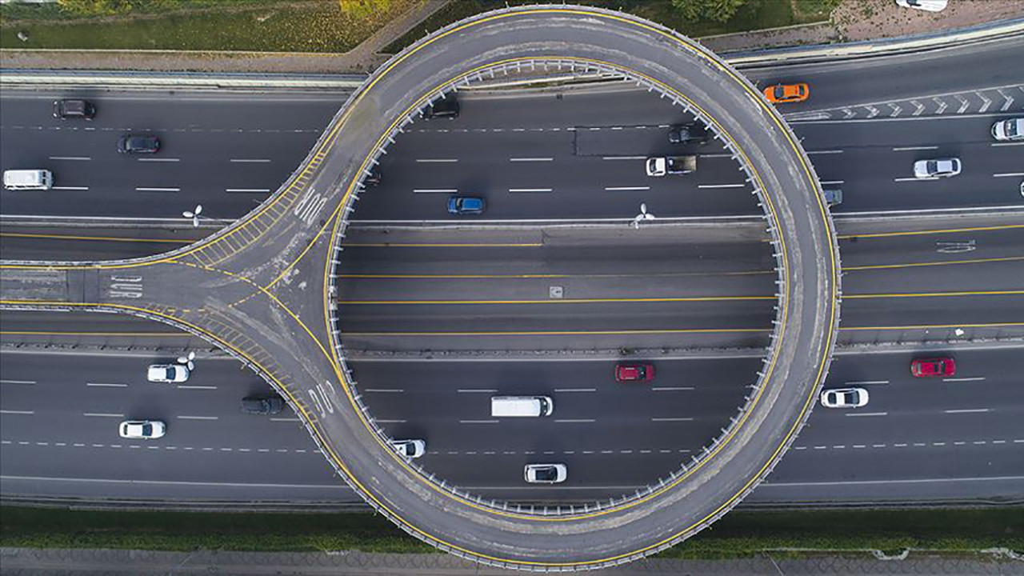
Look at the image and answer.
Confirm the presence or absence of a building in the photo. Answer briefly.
No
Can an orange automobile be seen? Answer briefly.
Yes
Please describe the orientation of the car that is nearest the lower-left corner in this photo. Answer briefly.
from left to right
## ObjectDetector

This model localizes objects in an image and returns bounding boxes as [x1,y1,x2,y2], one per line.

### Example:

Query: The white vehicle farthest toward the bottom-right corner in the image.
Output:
[819,386,868,409]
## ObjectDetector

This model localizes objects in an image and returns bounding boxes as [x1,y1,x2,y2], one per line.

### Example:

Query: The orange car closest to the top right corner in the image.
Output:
[763,83,809,105]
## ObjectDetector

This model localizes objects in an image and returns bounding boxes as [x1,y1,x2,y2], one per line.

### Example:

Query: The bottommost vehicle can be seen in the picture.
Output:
[524,462,566,486]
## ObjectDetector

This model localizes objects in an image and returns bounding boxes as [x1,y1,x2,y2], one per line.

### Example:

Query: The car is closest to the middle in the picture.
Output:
[447,195,485,217]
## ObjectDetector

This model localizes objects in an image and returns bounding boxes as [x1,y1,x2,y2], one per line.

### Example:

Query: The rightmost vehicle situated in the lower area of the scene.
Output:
[908,356,954,378]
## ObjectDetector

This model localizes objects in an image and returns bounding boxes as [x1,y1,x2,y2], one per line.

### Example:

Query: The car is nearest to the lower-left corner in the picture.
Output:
[119,419,168,441]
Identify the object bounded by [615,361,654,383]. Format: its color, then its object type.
red car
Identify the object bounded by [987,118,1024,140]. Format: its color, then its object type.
white car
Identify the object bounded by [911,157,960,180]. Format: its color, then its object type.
white car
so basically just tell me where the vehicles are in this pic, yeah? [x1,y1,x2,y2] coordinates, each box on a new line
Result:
[825,187,843,206]
[54,98,98,121]
[5,167,56,191]
[895,0,948,13]
[394,438,426,458]
[361,166,381,186]
[911,157,960,180]
[491,395,553,419]
[119,419,168,441]
[447,195,485,217]
[146,363,191,385]
[615,361,654,383]
[524,462,566,486]
[645,153,697,176]
[763,83,809,105]
[668,122,711,146]
[241,394,286,417]
[420,98,459,118]
[987,118,1024,140]
[819,386,868,409]
[908,356,954,378]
